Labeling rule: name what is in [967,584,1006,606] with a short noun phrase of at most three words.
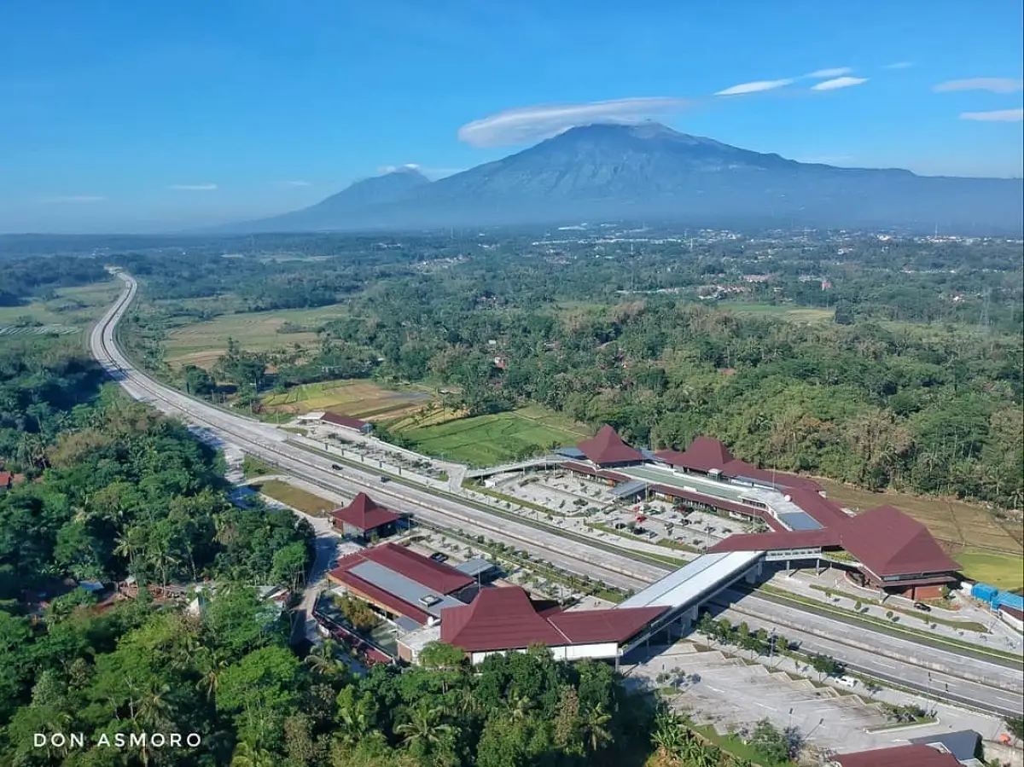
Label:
shed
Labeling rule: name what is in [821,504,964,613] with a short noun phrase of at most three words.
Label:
building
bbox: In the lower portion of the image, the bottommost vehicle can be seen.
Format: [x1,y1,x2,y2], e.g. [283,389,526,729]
[835,672,858,685]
